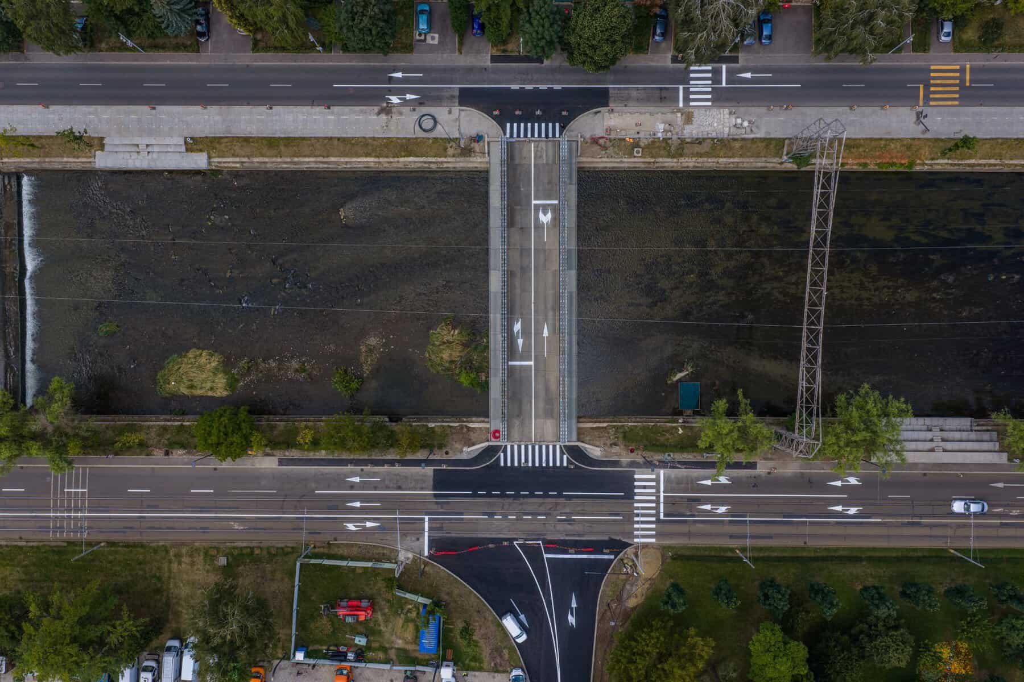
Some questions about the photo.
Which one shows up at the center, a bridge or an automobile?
bridge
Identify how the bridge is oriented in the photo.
up and down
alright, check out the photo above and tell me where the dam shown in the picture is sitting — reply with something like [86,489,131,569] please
[3,172,25,412]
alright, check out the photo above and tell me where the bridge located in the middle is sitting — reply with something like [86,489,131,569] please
[487,134,578,446]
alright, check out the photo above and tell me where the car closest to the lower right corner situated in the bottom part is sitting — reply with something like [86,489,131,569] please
[949,499,987,515]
